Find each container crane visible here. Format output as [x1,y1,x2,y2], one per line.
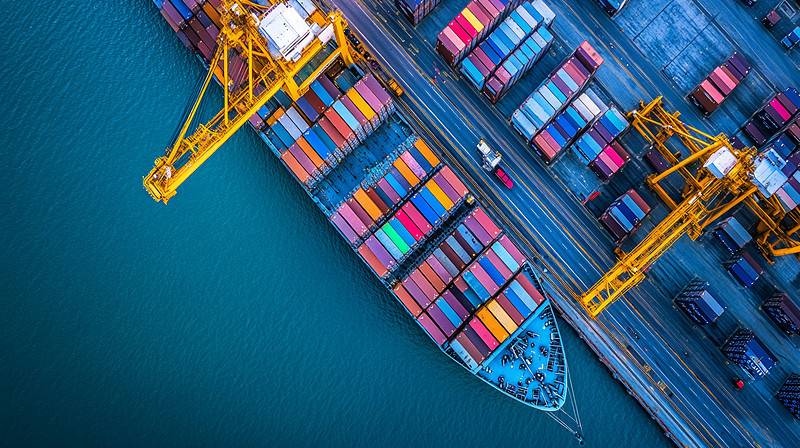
[573,86,800,322]
[720,144,800,262]
[130,0,368,213]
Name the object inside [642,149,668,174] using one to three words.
shipping container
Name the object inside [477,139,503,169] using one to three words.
truck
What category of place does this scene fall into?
port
